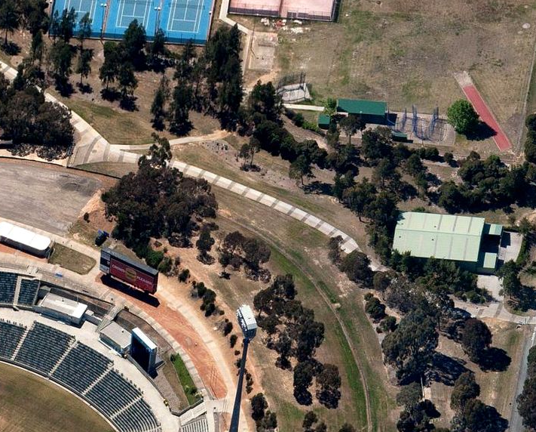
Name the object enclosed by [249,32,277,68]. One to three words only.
basketball court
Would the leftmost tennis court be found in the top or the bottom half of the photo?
top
